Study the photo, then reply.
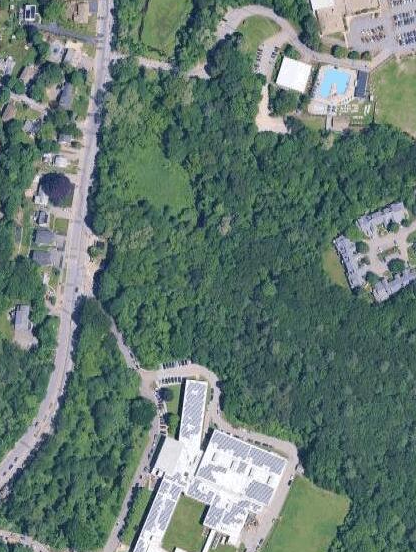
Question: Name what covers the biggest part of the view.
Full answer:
The scene is dominated by trees.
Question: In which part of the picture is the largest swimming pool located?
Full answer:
Look in the top right portion of the view to spot the largest swimming pool.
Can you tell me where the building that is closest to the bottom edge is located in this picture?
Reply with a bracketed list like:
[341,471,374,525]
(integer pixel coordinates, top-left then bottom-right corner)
[135,380,287,552]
